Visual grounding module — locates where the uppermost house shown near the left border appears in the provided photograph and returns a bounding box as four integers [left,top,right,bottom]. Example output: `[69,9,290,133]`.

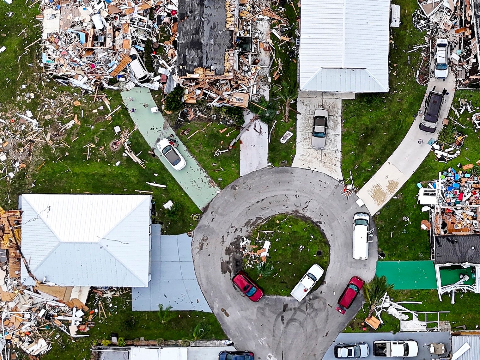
[0,193,153,288]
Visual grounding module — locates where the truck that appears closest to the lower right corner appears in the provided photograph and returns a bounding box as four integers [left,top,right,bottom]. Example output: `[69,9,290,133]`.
[372,339,419,360]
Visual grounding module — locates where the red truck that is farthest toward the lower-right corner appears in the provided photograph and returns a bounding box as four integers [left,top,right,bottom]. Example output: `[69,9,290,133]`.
[332,273,364,317]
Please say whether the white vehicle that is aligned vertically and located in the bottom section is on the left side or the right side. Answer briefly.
right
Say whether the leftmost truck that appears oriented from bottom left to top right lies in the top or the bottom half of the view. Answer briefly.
bottom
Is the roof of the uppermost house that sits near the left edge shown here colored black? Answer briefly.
No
